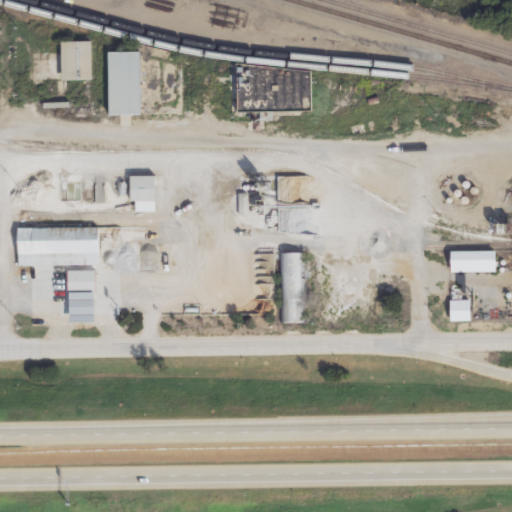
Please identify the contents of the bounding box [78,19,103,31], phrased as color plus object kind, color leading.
white rail car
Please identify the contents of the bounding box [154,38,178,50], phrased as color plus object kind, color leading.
white rail car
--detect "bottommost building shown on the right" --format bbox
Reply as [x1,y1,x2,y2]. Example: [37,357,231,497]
[450,300,472,322]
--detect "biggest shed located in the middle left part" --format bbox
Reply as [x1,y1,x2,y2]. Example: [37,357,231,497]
[16,226,98,266]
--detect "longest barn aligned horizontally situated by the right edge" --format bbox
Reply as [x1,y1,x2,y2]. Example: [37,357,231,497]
[451,250,496,273]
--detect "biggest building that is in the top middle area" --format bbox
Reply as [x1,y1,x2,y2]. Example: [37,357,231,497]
[231,66,312,120]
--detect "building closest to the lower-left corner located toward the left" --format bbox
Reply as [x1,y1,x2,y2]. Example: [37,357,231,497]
[68,292,94,322]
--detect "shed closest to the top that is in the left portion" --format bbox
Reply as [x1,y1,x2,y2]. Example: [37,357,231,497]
[60,40,92,80]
